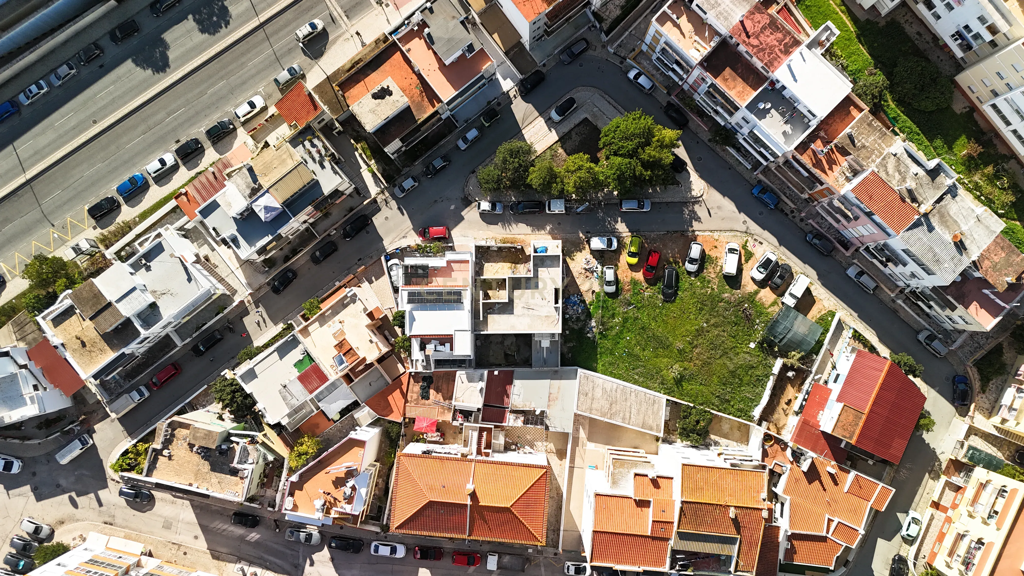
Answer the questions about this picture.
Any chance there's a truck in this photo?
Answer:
Yes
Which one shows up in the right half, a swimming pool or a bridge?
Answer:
swimming pool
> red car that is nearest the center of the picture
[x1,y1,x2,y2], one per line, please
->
[416,224,451,242]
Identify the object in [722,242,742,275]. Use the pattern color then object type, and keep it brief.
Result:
white vehicle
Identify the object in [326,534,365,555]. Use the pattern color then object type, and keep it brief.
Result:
black car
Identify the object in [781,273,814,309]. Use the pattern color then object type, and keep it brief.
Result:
white van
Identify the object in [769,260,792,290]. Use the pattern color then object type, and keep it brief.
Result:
black car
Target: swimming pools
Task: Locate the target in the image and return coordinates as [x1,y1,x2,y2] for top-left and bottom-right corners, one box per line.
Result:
[962,444,1005,474]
